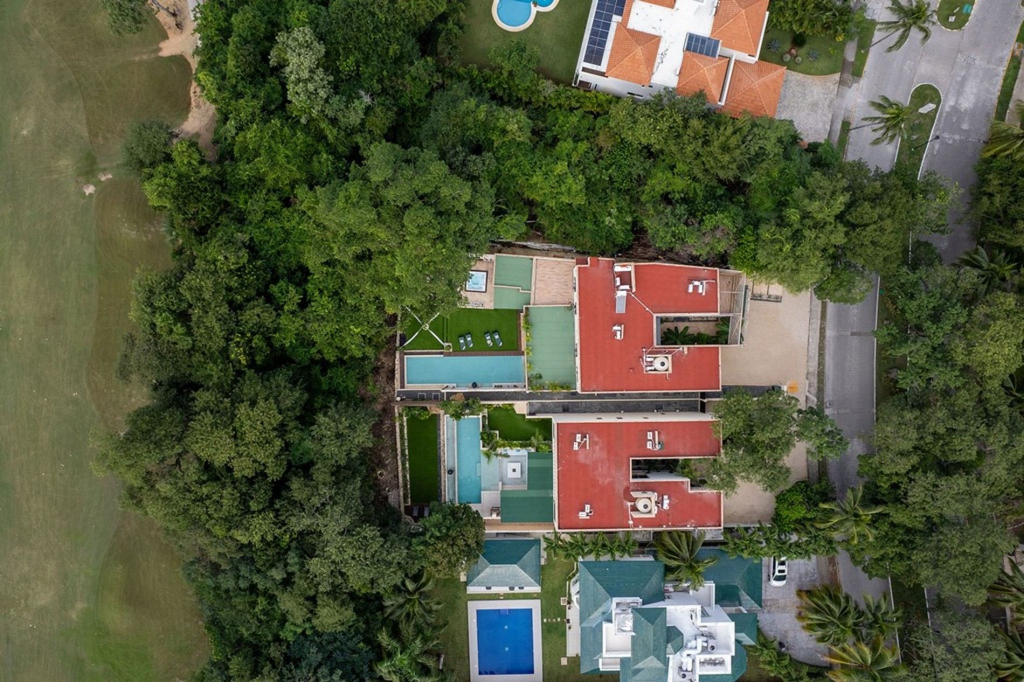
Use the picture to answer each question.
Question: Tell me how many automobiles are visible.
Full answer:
Just 1 automobile appears in this view.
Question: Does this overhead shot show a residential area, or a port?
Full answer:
This image shows a residential area.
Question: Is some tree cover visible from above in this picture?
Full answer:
Yes, there is tree cover in the image.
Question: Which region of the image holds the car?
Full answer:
The car is in the bottom right part of the image.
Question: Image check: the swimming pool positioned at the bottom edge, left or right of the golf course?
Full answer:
You can see the swimming pool positioned at the bottom edge positioned to the right of the golf course.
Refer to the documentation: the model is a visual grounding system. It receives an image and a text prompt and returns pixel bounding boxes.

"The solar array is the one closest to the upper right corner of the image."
[685,32,721,59]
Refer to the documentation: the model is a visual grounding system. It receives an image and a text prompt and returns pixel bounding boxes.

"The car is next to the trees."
[769,548,789,586]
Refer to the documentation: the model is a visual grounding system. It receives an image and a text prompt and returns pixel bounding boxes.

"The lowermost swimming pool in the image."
[469,597,543,682]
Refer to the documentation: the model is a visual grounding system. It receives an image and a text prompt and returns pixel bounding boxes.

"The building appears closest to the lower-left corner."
[467,535,541,593]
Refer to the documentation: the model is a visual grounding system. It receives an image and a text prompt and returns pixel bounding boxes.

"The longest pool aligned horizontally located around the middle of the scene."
[403,354,524,389]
